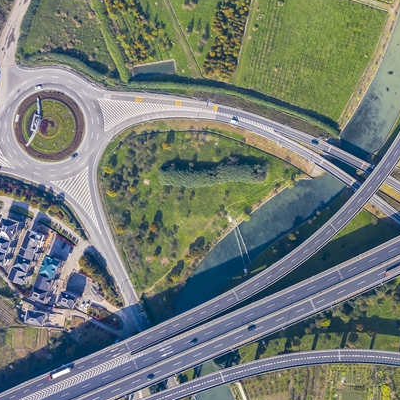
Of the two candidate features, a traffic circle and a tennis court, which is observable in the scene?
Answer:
traffic circle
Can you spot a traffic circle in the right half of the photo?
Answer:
No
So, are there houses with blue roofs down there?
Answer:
Yes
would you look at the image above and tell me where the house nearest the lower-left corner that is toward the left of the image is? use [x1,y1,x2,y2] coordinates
[24,308,52,330]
